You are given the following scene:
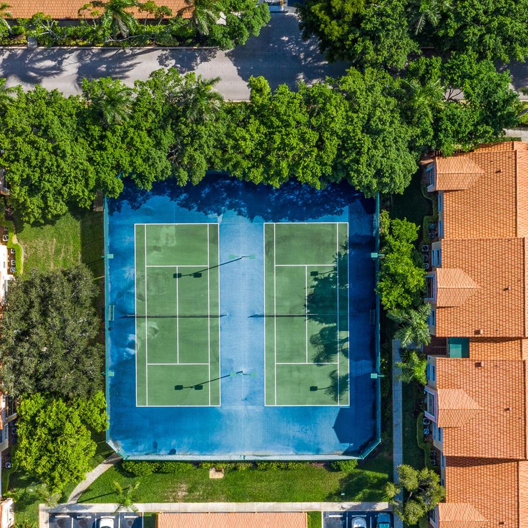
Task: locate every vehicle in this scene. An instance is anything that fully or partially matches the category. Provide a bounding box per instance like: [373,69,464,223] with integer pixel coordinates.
[98,516,114,528]
[376,511,394,528]
[350,516,367,528]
